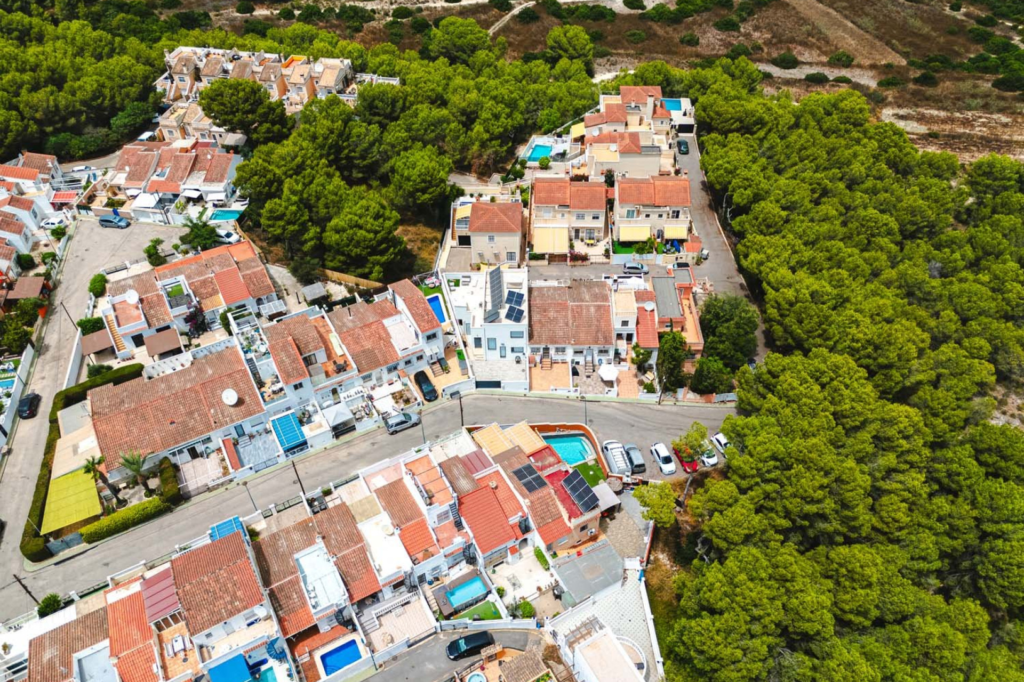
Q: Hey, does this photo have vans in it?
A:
Yes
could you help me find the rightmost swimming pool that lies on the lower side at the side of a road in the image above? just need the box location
[540,434,597,470]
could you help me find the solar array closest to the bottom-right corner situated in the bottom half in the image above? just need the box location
[561,469,600,518]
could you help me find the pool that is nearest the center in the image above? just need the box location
[426,293,450,326]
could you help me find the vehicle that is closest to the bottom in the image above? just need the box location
[447,625,497,660]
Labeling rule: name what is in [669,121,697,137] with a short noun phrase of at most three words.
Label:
building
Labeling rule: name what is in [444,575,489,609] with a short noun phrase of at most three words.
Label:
swimming pool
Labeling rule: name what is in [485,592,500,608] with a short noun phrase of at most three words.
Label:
umbrella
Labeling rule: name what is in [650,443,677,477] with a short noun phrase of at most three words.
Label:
car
